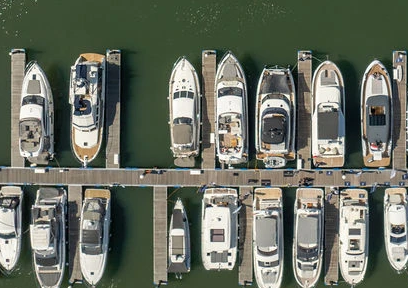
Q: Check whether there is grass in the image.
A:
No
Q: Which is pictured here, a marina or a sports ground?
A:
marina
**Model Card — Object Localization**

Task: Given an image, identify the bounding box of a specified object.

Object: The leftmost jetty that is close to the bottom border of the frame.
[68,186,82,284]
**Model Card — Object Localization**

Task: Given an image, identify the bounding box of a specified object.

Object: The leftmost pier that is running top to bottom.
[11,48,26,167]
